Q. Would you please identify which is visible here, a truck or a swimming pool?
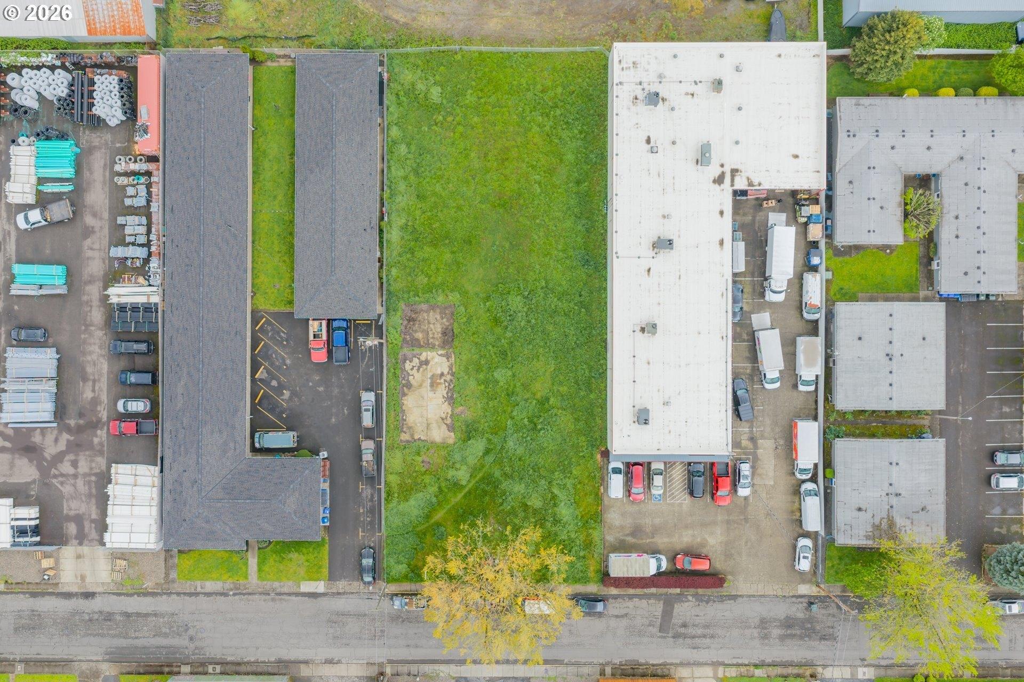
truck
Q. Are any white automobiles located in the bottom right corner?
Yes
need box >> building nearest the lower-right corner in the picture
[833,439,946,547]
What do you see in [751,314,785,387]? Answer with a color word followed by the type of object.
white truck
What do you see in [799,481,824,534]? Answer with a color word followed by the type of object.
white vehicle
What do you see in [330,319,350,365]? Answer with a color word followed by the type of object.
blue vehicle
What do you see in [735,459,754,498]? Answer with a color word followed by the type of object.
white car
